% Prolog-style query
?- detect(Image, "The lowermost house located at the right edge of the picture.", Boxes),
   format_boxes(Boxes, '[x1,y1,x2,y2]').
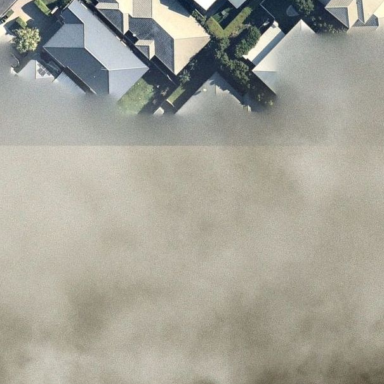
[253,20,370,139]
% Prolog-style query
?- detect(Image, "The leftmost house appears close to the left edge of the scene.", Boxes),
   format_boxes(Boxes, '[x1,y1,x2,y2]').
[2,61,69,127]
